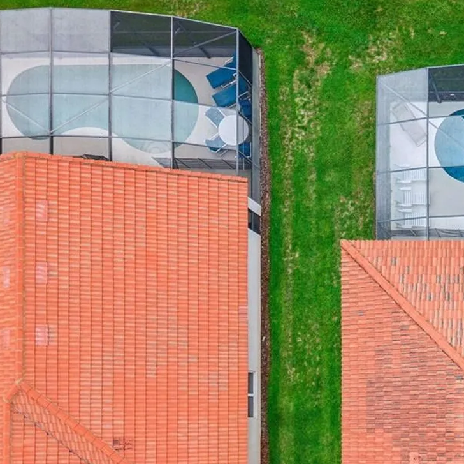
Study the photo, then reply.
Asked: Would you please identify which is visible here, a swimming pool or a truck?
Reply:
swimming pool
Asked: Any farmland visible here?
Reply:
No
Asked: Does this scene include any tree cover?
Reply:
No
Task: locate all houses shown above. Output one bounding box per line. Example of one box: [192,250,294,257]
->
[338,236,464,464]
[0,151,262,464]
